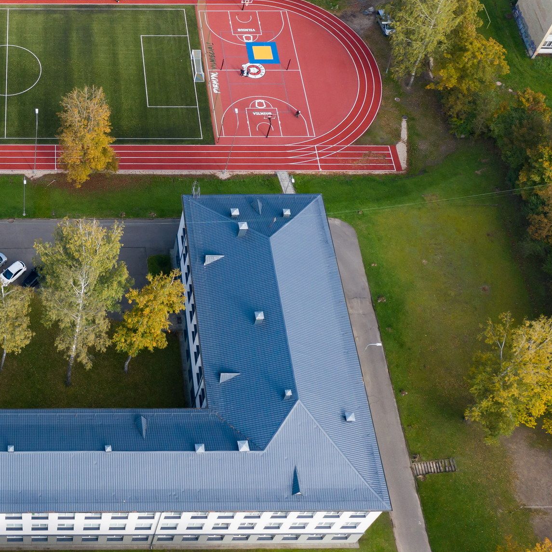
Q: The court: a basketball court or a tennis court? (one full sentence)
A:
I'd say the court is a basketball court.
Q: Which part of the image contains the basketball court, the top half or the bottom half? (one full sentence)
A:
You can find the basketball court in the top half.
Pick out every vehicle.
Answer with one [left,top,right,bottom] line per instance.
[374,12,392,34]
[0,259,27,287]
[19,265,47,293]
[0,250,8,265]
